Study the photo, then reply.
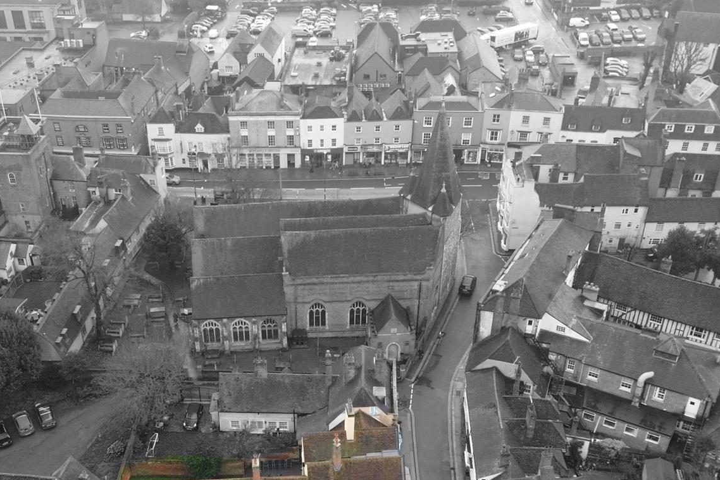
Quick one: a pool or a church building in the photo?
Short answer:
church building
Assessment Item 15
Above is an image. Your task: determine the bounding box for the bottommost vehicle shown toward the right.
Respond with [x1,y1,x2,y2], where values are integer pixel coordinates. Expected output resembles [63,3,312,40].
[455,274,478,296]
